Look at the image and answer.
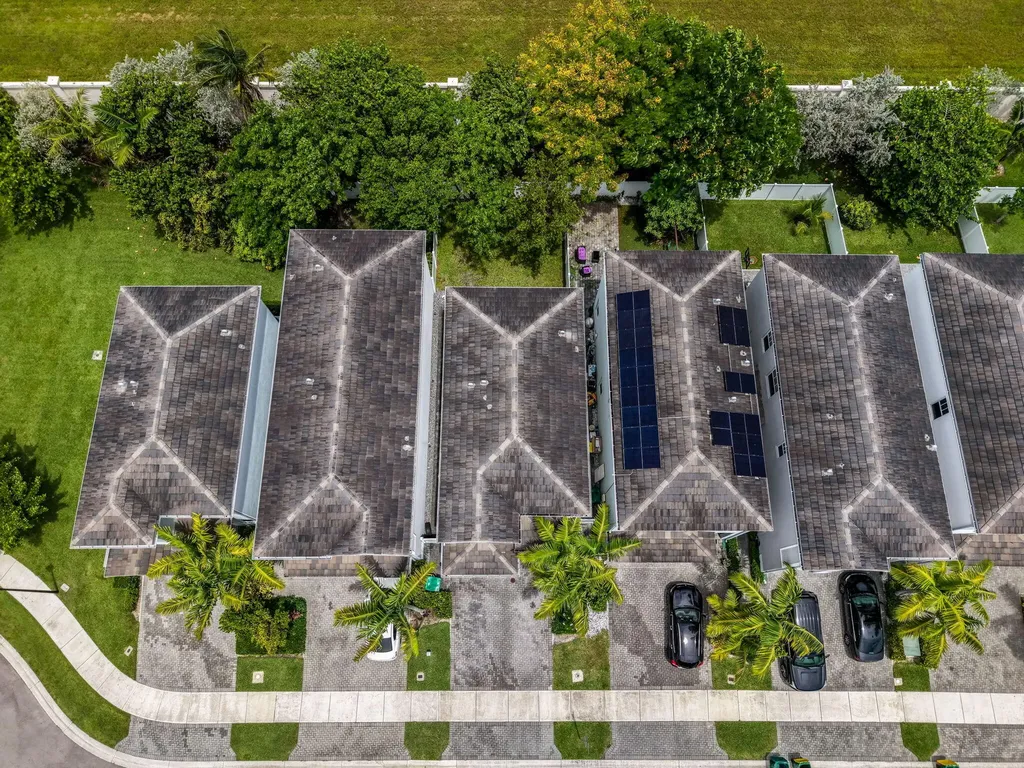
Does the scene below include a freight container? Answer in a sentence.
No, no freight container can be seen from above.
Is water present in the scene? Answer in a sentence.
No, there's no water in this view.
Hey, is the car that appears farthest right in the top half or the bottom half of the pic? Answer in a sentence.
The car that appears farthest right sits in the bottom half of the picture.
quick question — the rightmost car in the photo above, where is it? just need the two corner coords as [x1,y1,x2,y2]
[834,571,889,663]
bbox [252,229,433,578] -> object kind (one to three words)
house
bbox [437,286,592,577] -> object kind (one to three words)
house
